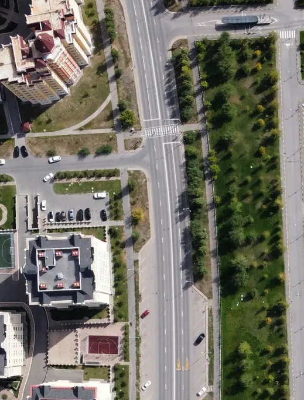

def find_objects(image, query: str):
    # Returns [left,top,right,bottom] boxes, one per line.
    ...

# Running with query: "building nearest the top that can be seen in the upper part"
[24,0,90,52]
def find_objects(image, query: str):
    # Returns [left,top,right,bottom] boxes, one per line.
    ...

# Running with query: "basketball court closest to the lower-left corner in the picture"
[88,335,118,354]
